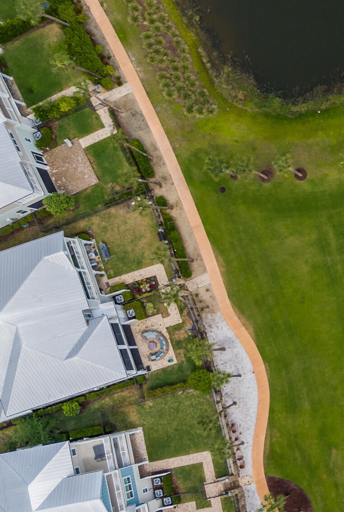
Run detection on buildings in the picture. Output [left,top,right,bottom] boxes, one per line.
[0,231,150,416]
[0,81,60,220]
[0,429,178,512]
